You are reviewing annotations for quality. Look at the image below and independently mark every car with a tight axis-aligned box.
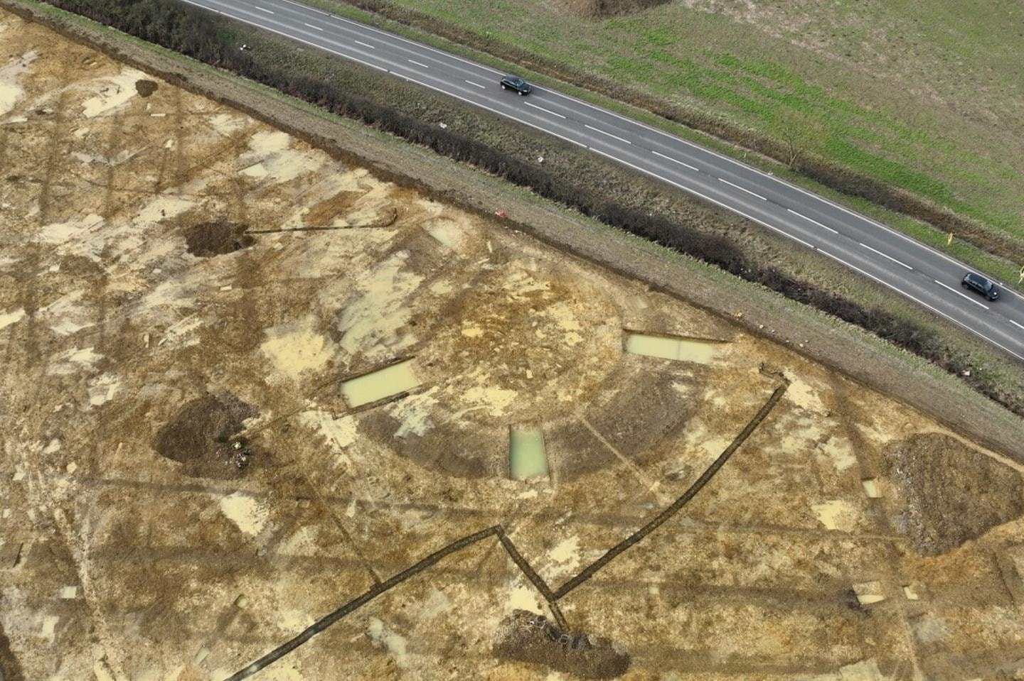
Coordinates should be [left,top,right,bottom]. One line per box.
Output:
[961,269,1005,300]
[499,72,530,93]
